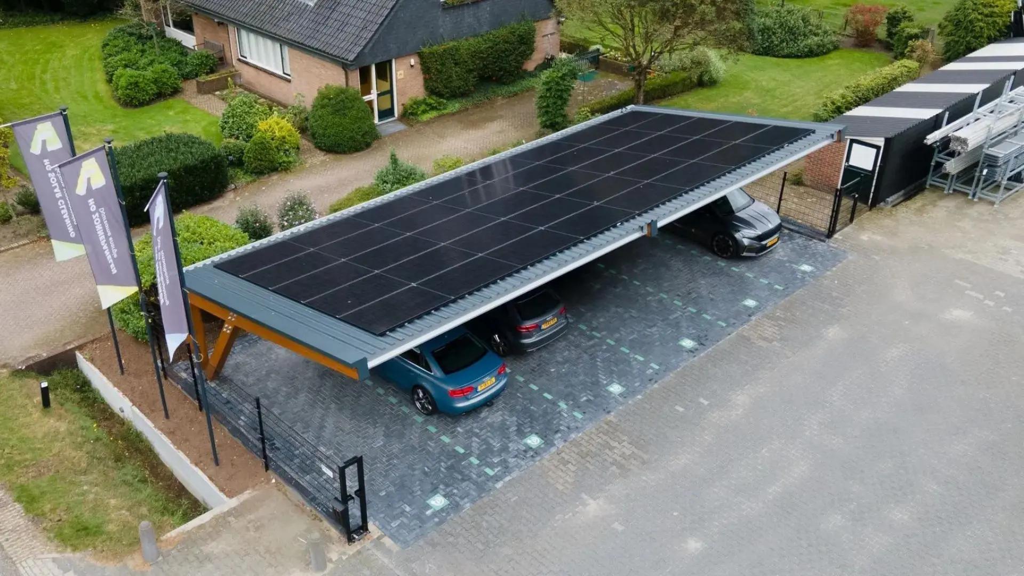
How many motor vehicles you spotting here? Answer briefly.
3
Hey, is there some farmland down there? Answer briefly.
No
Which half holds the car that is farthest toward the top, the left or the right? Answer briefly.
right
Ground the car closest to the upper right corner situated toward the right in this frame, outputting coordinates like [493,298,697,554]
[668,188,787,261]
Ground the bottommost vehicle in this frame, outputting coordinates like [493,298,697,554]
[380,327,515,421]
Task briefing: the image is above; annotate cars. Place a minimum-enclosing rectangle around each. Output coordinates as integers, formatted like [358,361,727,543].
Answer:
[466,285,574,357]
[380,327,515,421]
[668,188,787,261]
